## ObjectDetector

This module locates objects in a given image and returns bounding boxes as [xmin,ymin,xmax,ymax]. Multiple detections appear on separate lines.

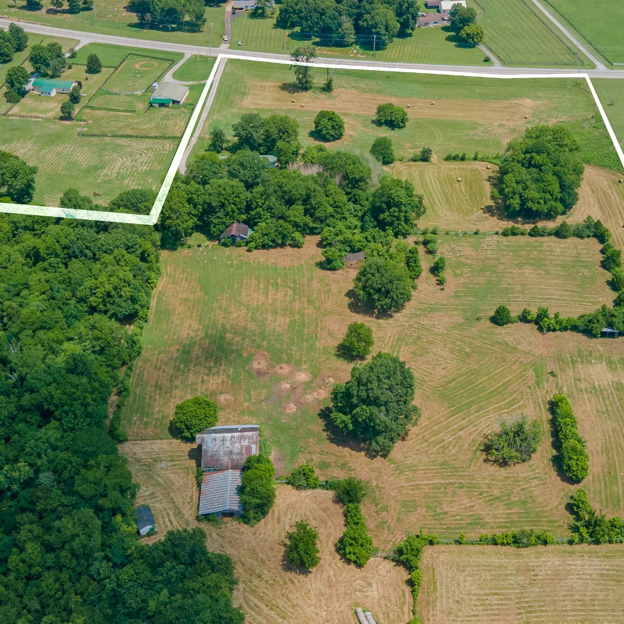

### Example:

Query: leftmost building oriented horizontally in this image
[31,77,78,96]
